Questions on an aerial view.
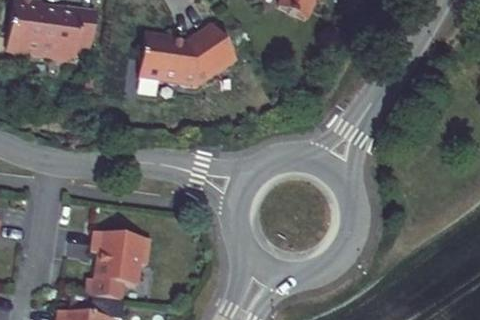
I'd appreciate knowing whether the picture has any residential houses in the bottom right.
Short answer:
No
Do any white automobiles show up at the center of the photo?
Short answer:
No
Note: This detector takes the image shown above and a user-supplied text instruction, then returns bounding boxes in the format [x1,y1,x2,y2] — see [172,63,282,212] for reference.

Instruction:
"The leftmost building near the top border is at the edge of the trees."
[8,0,96,64]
